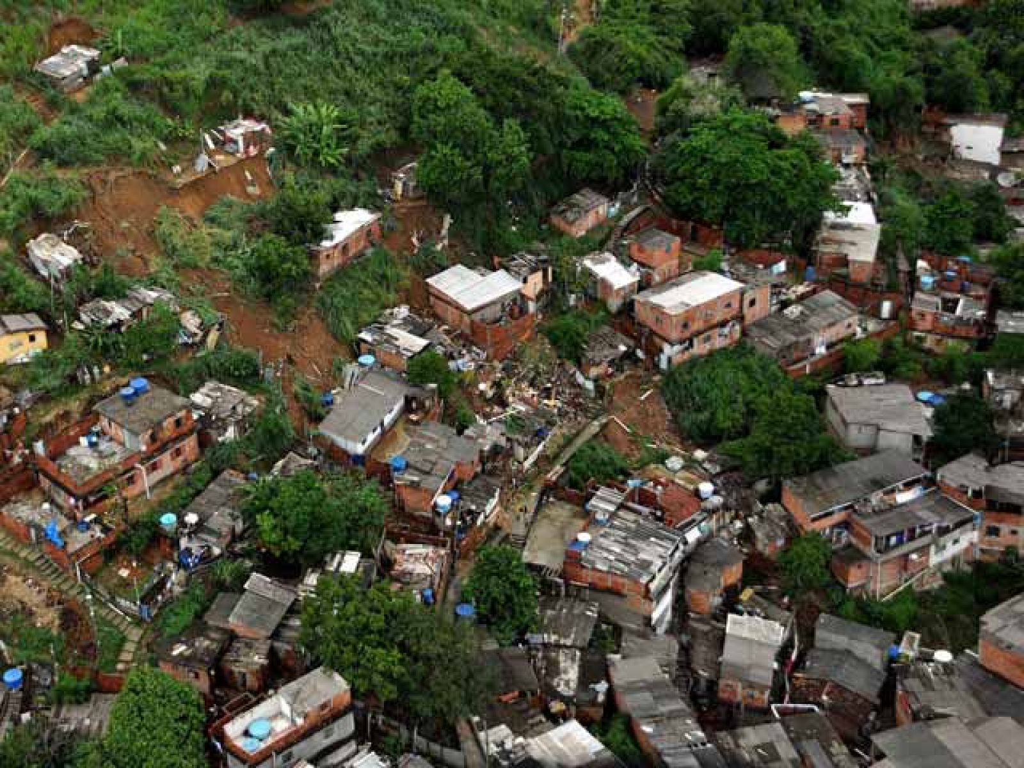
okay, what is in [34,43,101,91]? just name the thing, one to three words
shed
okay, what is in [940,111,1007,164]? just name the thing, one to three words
house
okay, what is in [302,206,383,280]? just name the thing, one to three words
house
